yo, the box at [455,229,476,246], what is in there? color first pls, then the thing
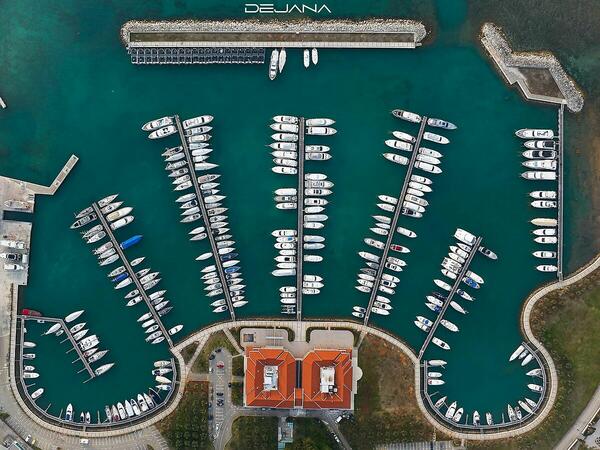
white boat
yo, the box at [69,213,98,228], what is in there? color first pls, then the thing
gray boat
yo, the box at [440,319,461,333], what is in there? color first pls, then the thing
white boat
